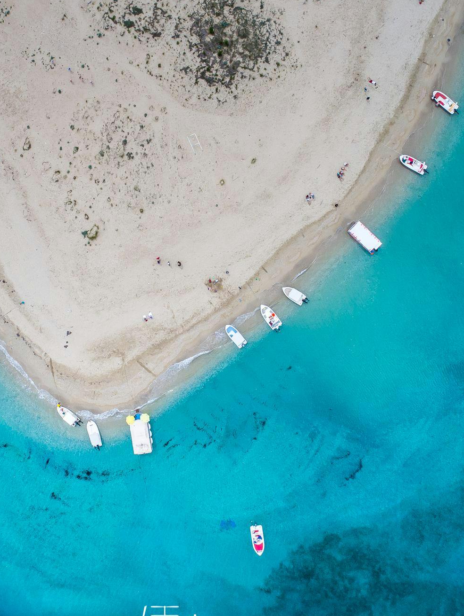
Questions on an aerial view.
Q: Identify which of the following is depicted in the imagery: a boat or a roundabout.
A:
boat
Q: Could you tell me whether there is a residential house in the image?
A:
No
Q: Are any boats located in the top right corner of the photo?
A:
Yes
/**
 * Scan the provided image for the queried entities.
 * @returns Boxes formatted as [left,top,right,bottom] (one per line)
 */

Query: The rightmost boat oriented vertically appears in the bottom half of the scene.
[251,522,264,556]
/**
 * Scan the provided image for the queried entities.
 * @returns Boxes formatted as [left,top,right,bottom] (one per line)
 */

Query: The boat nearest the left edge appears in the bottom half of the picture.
[59,407,84,429]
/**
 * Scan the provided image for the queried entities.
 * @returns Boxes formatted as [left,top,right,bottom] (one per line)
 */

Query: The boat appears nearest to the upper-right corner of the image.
[432,92,458,116]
